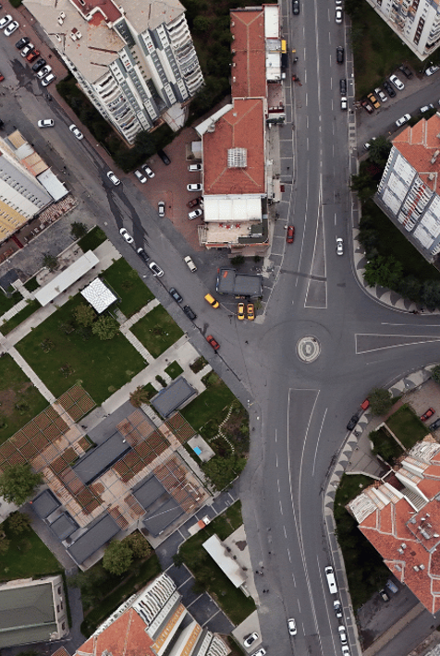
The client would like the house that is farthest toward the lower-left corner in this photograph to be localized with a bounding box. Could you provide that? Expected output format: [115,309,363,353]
[0,576,67,647]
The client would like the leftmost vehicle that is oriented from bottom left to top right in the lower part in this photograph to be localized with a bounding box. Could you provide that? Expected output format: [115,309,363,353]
[185,514,211,537]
